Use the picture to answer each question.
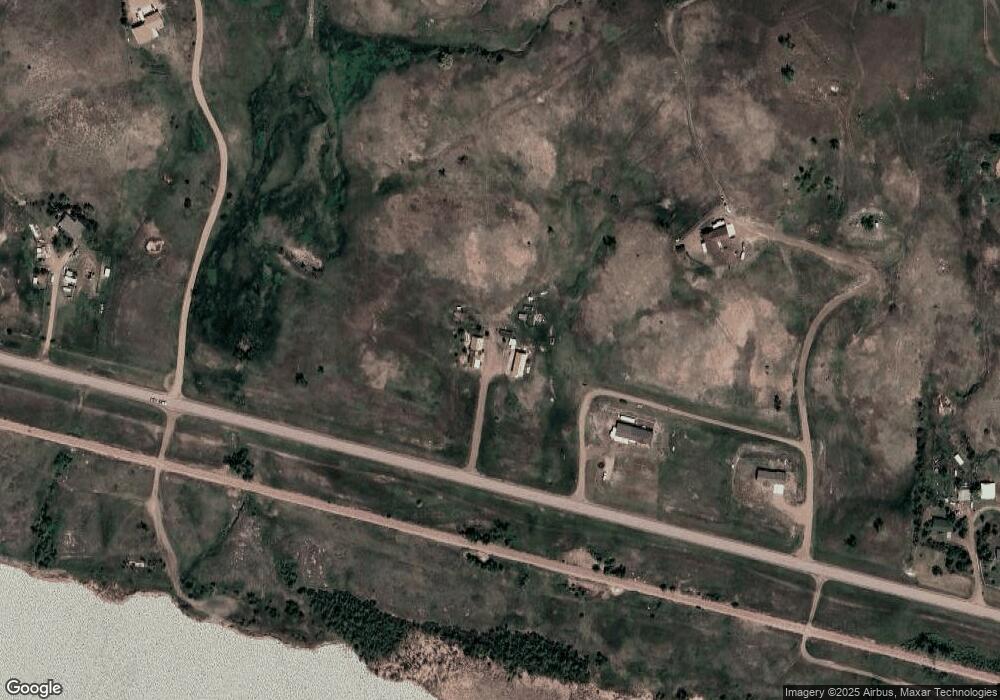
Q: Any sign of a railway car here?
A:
No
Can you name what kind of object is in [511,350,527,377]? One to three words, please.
barn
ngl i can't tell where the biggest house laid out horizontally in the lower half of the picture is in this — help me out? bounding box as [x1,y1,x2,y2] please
[615,423,654,445]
